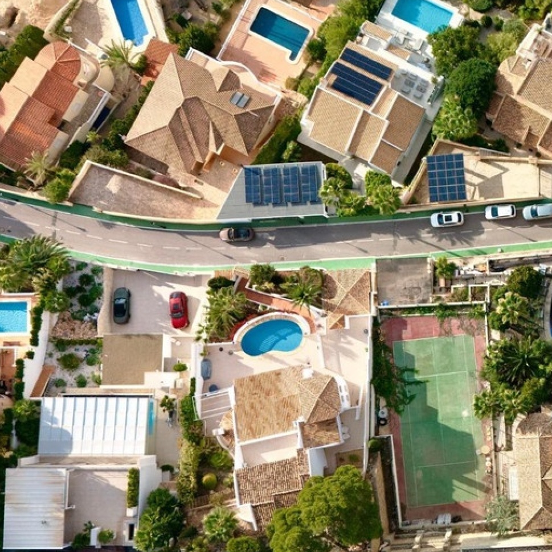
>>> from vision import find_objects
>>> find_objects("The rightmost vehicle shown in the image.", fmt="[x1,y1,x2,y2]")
[522,202,552,220]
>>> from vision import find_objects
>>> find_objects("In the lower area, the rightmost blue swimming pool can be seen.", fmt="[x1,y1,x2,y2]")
[236,315,306,361]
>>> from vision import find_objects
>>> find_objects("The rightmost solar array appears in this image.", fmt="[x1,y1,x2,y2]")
[426,154,466,202]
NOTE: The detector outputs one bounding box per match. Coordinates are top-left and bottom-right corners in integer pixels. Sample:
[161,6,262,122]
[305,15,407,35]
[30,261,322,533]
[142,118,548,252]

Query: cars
[522,202,552,220]
[219,224,255,242]
[169,291,190,329]
[484,202,517,220]
[430,209,464,227]
[112,287,132,325]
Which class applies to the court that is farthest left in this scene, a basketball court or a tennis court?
tennis court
